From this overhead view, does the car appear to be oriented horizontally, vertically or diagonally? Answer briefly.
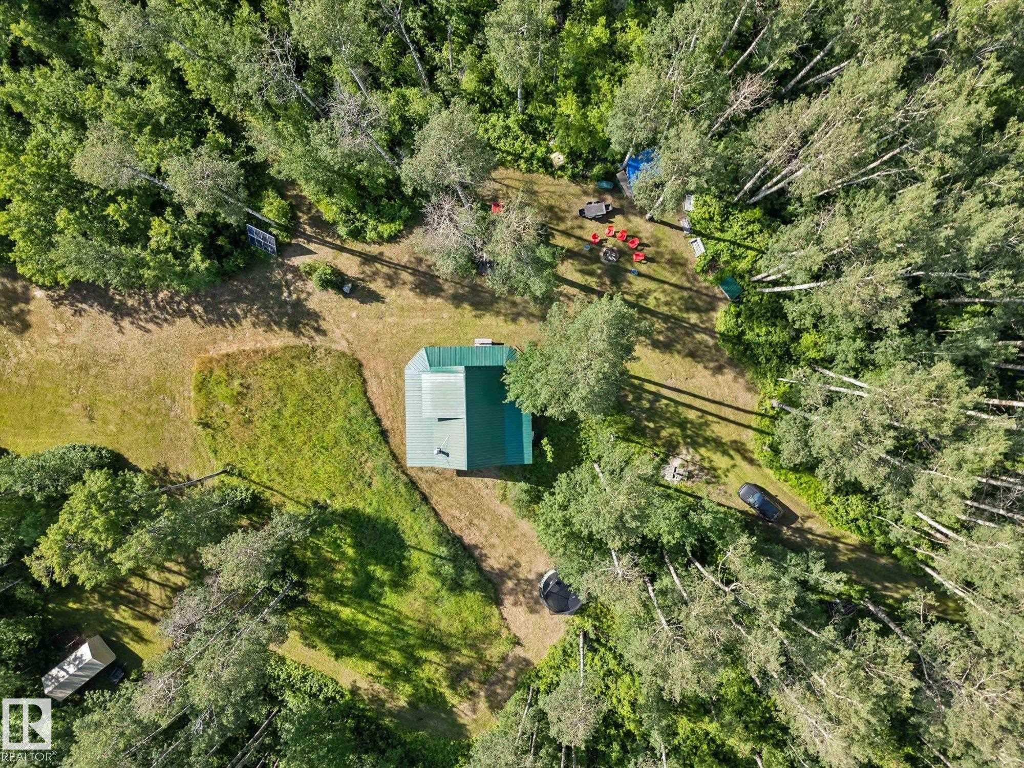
diagonally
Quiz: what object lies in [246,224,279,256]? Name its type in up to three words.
solar panel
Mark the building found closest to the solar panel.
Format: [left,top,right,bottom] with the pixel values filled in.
[405,346,532,470]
